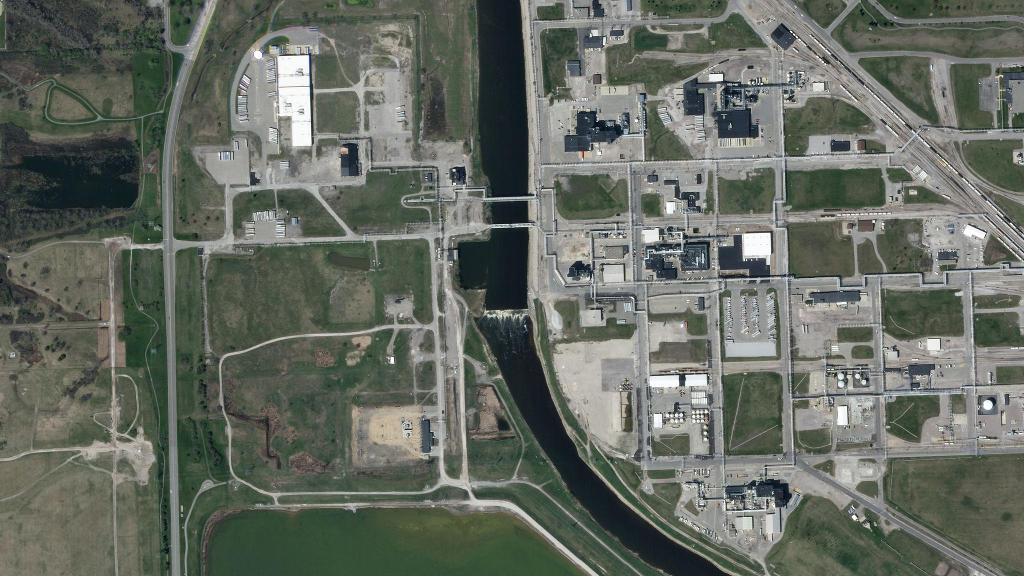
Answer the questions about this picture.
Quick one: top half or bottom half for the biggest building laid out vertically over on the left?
top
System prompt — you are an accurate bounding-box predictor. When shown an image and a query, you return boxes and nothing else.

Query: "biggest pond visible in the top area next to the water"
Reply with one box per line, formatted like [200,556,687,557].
[3,146,139,209]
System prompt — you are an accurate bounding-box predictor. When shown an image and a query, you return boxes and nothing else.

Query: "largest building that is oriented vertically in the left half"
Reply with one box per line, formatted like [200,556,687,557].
[277,55,311,146]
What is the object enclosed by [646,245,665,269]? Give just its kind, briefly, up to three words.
building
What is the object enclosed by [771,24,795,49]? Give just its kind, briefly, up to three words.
building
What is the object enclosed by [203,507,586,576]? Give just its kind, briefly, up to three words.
pond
